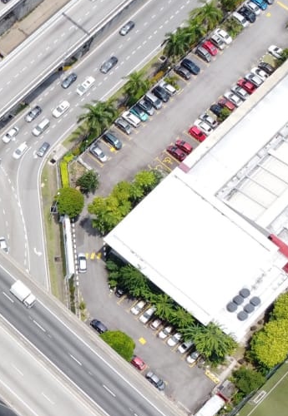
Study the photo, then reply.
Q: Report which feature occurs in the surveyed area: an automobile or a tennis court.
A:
automobile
